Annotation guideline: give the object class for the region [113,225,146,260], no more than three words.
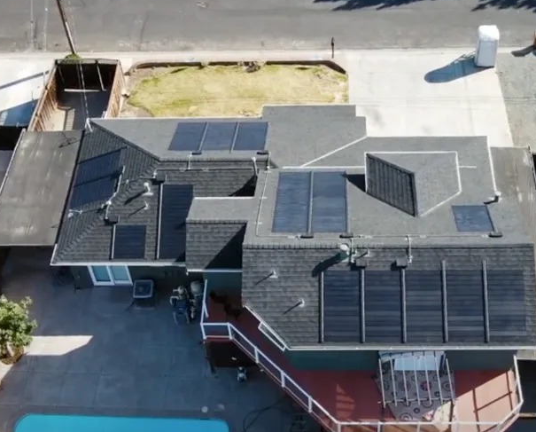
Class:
solar panel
